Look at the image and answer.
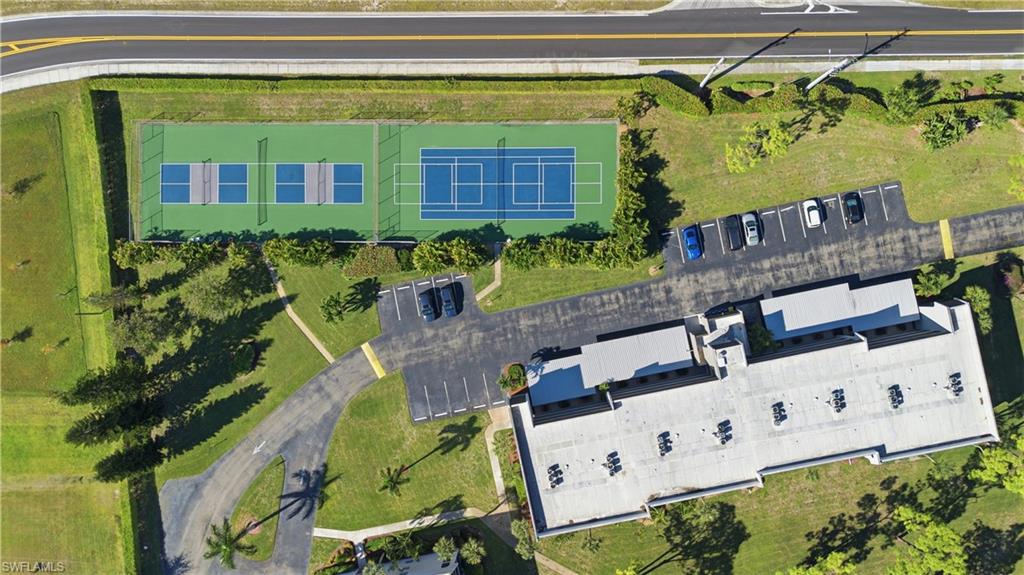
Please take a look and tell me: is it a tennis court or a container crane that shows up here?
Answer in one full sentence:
Of the two, only a tennis court appears.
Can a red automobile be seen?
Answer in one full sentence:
No, no red automobile is visible in the scene.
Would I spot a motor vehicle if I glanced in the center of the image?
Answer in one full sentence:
Yes, you'll find a motor vehicle in the center of the image.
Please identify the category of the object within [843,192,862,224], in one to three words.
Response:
car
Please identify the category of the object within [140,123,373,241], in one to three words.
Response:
sports court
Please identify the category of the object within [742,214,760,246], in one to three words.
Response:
car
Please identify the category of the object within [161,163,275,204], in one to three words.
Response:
sports court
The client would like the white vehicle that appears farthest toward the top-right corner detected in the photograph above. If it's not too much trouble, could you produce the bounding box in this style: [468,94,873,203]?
[803,199,821,229]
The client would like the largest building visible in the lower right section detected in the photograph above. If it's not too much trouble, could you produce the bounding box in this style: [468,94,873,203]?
[511,303,1002,540]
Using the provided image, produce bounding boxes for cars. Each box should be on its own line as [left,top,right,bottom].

[843,192,862,224]
[440,287,456,318]
[724,215,744,252]
[684,227,701,260]
[742,214,760,246]
[803,199,821,229]
[419,292,435,322]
